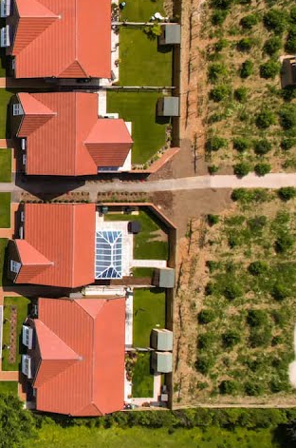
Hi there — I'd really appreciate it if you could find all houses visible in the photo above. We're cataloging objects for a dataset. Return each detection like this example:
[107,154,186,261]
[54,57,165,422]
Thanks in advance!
[21,295,126,415]
[8,203,96,286]
[11,92,131,175]
[0,0,112,78]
